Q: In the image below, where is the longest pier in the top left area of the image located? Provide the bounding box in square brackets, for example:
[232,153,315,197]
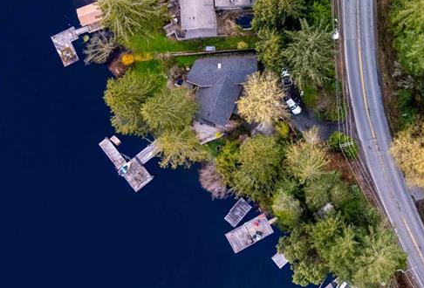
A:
[49,17,111,67]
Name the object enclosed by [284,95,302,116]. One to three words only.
car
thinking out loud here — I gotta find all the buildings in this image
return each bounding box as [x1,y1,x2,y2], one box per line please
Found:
[188,54,257,145]
[161,0,260,44]
[77,1,104,27]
